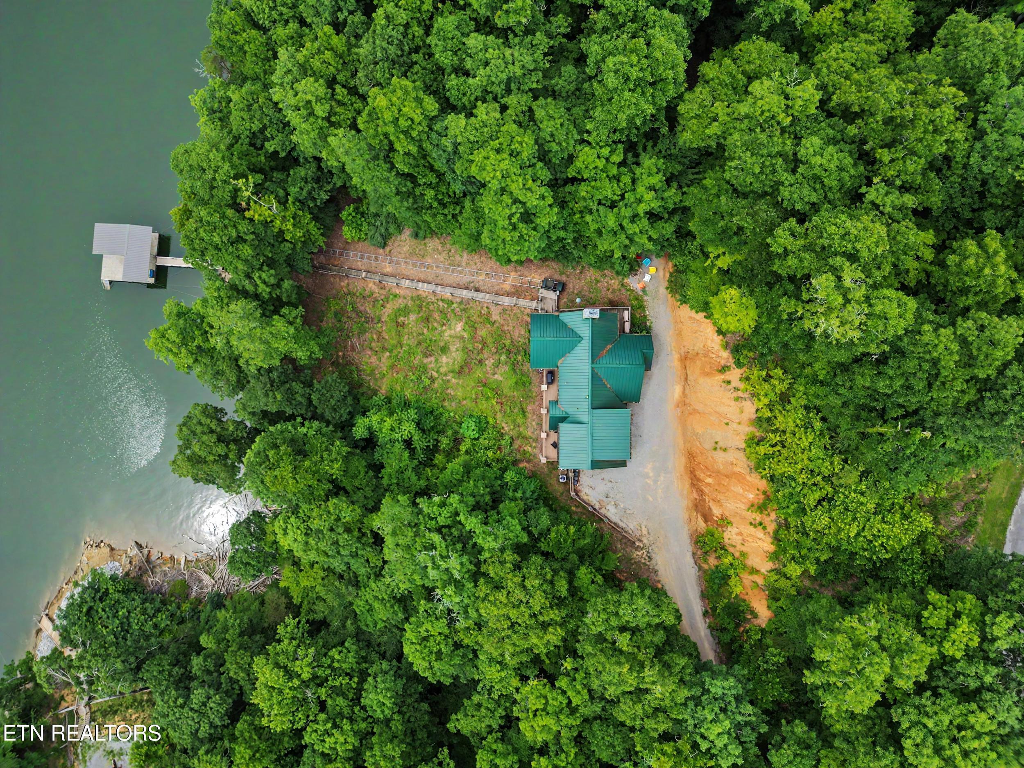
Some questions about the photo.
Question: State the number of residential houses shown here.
1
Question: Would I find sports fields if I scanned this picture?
No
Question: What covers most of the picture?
trees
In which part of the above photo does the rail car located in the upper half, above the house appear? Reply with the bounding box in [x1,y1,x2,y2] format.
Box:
[541,277,562,292]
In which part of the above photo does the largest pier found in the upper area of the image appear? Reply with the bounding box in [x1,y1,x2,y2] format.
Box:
[92,223,161,285]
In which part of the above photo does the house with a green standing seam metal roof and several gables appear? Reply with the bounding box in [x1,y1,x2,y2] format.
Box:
[532,309,655,470]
